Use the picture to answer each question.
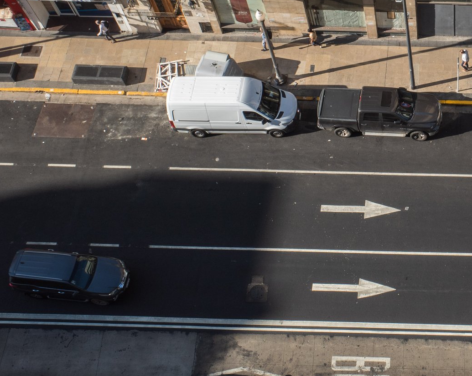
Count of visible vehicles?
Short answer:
3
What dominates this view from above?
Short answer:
paved ground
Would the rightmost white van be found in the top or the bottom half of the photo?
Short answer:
top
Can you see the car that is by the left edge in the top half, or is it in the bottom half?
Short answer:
bottom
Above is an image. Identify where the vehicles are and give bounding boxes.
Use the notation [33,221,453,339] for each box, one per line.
[4,251,134,307]
[163,76,302,137]
[317,82,444,138]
